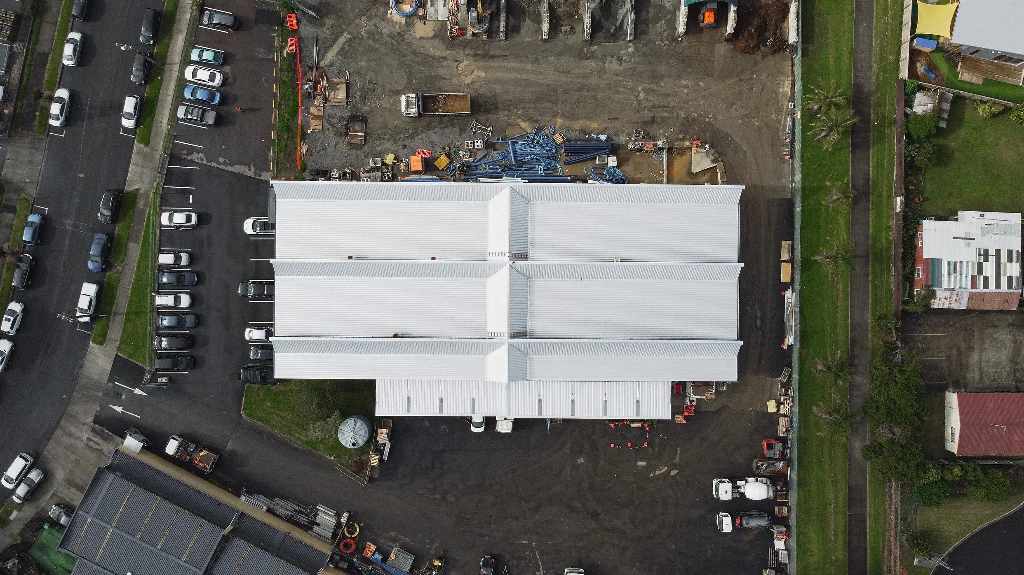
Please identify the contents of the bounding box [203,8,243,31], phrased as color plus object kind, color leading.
gray car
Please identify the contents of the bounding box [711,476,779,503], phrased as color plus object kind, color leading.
white truck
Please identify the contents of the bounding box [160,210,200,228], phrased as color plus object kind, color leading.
white car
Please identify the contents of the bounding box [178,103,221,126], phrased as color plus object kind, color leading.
gray vehicle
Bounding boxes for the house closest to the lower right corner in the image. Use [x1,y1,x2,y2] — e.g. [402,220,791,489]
[946,391,1024,457]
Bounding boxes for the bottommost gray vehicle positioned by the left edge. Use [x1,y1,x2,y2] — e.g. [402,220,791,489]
[46,501,73,528]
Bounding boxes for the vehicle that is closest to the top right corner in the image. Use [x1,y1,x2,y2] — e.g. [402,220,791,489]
[696,1,718,27]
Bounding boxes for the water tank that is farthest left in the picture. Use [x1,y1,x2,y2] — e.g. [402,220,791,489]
[339,413,374,448]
